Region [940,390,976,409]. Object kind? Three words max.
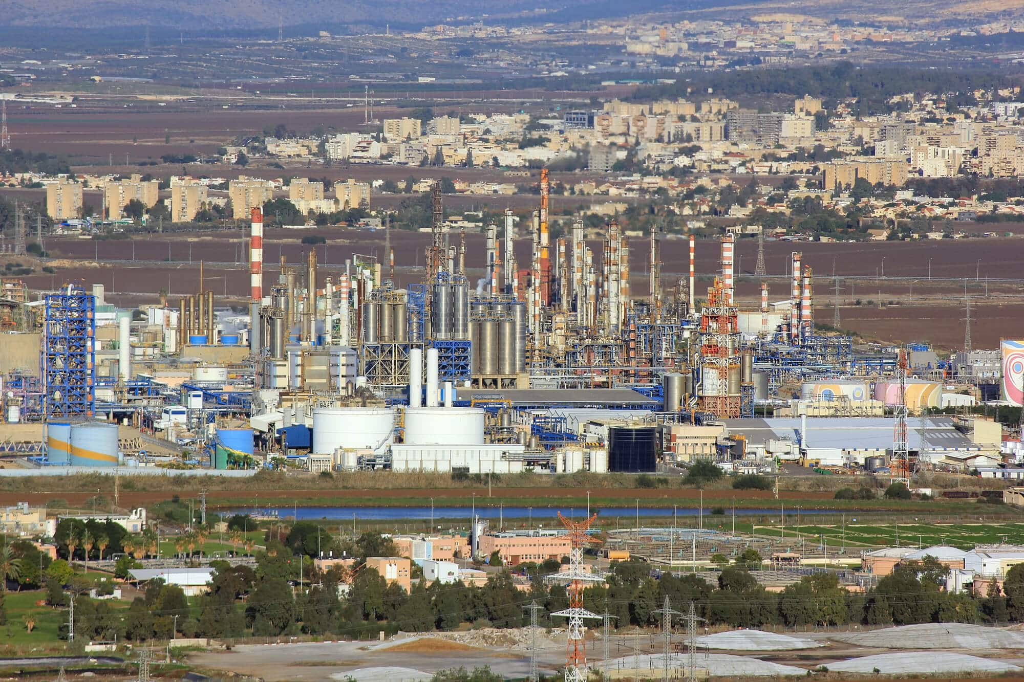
building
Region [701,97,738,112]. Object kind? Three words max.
building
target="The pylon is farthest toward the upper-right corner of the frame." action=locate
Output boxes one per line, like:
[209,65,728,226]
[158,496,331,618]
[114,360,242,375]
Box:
[960,297,975,350]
